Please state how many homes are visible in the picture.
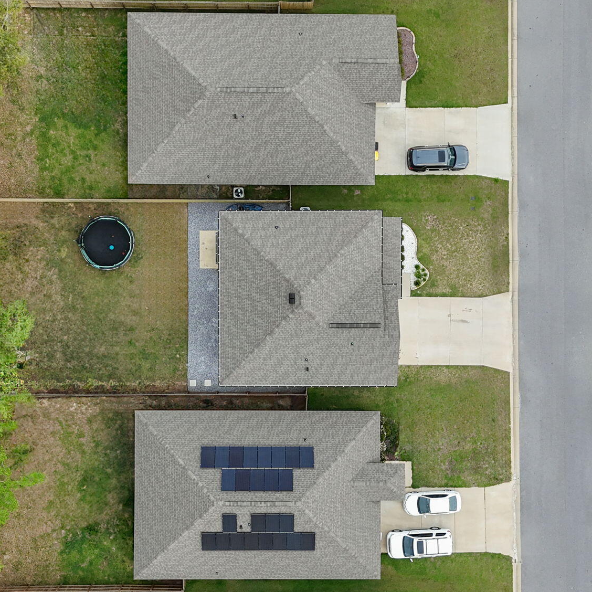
3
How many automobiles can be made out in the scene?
three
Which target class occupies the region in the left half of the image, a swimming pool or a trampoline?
trampoline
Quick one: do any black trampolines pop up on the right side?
No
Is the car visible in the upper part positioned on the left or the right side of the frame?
right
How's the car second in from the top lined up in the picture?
horizontally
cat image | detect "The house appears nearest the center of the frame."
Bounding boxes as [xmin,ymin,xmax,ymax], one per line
[217,209,404,387]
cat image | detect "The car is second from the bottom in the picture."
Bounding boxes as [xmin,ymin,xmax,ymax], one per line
[401,487,461,519]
